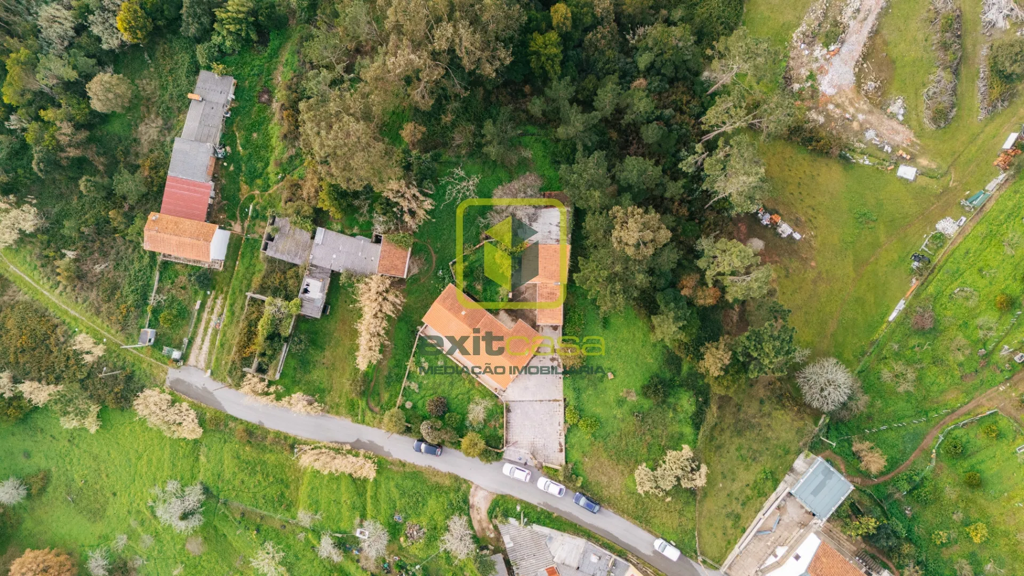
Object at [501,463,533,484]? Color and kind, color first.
white car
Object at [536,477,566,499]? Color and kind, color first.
white car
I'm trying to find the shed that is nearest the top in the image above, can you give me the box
[181,70,240,144]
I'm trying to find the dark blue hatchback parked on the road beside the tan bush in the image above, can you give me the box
[412,439,443,458]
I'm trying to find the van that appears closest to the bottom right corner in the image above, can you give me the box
[652,537,685,566]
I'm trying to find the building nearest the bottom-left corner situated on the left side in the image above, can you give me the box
[139,328,162,345]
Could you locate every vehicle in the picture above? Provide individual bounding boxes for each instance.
[536,477,566,499]
[501,463,533,484]
[412,439,443,458]
[652,537,685,566]
[572,492,603,517]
